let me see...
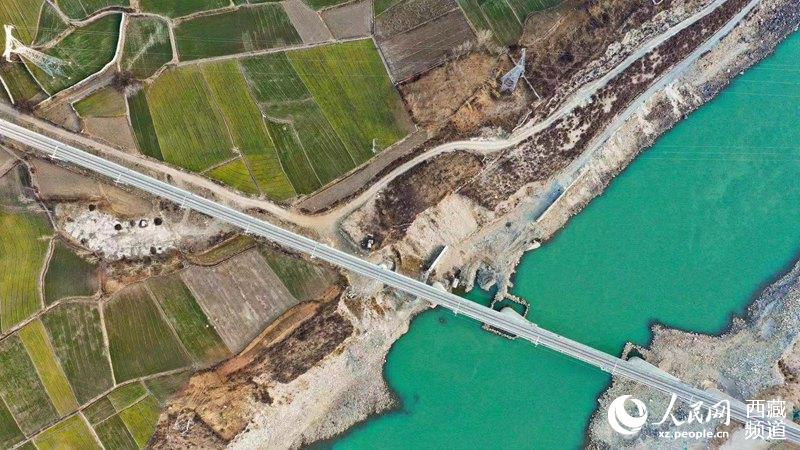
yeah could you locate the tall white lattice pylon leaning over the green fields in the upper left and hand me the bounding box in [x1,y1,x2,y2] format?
[2,26,75,81]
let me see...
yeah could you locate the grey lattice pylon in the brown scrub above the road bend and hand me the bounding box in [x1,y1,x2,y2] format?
[496,52,525,98]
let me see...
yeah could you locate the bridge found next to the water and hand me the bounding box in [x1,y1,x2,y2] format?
[0,120,800,448]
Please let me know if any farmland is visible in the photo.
Yes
